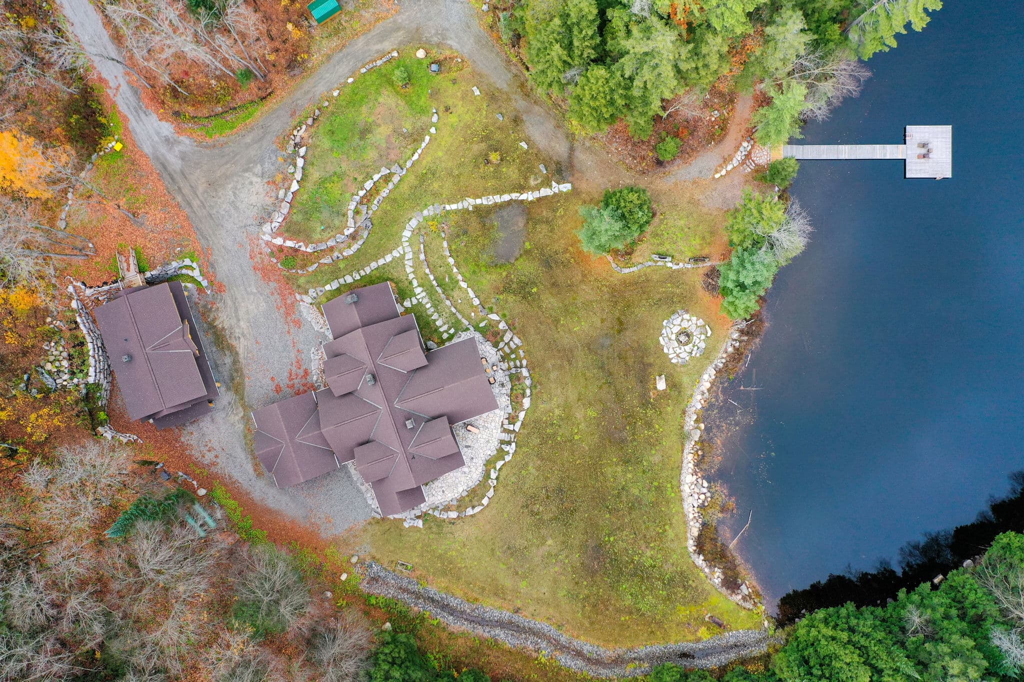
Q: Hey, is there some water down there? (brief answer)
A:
Yes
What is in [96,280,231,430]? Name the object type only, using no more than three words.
building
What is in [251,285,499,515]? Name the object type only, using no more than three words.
house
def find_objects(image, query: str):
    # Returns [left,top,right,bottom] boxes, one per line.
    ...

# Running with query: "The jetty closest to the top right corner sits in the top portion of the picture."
[904,125,952,179]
